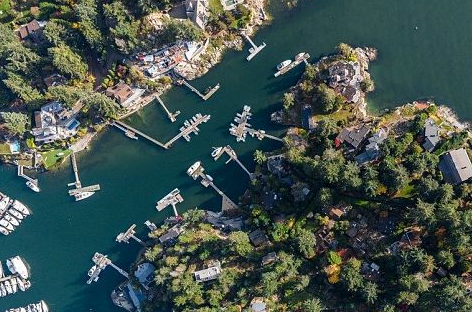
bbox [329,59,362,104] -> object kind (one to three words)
house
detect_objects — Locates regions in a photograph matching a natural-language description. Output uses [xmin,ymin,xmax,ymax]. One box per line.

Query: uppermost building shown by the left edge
[17,16,45,42]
